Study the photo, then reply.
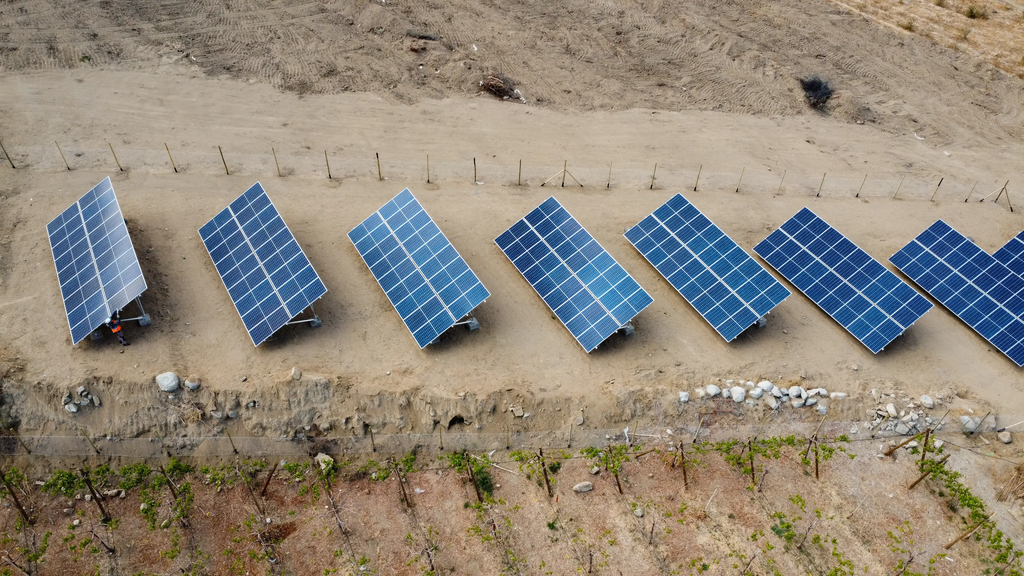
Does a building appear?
No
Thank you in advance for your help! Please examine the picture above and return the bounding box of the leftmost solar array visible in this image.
[45,175,157,346]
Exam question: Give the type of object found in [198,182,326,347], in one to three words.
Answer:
solar array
